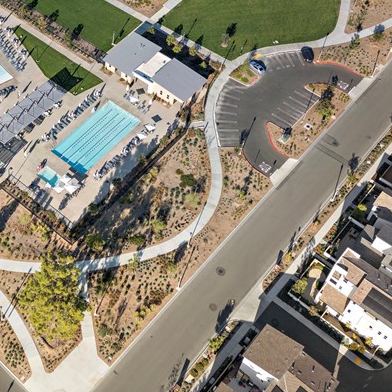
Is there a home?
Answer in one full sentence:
Yes, the photo shows a home.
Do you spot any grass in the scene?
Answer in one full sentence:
Yes, there is grass in the image.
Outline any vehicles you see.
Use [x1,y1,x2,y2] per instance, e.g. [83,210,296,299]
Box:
[251,59,267,72]
[303,45,313,59]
